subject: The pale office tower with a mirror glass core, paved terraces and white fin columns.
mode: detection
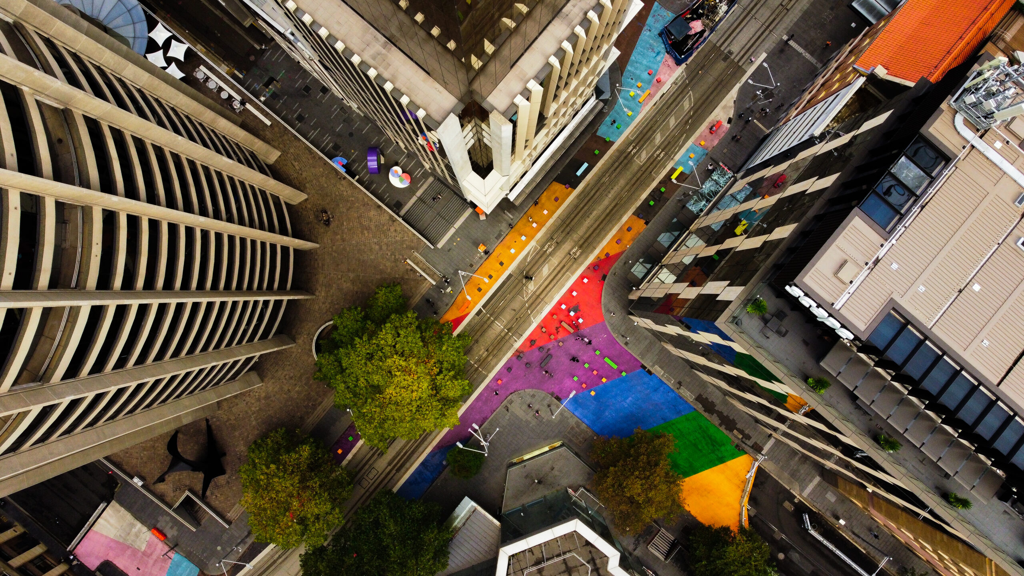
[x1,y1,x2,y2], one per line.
[240,0,644,215]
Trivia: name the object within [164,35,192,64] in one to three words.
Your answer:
umbrella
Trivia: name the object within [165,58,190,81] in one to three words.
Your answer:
umbrella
